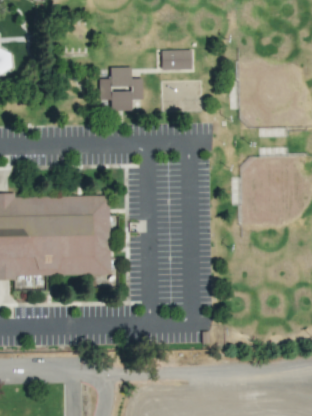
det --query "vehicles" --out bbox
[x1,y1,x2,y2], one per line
[32,358,44,362]
[14,368,24,374]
